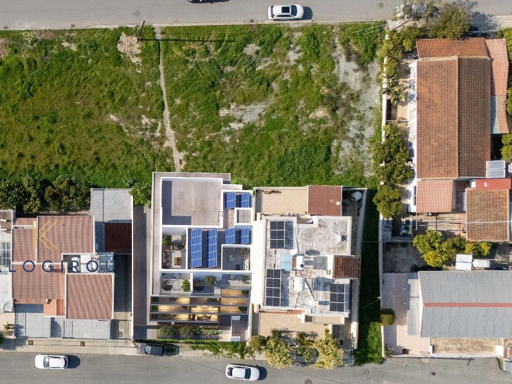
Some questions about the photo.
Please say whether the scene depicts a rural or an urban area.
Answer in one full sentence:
The area shown here is urban.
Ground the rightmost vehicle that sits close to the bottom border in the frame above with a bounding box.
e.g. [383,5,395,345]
[225,364,260,382]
